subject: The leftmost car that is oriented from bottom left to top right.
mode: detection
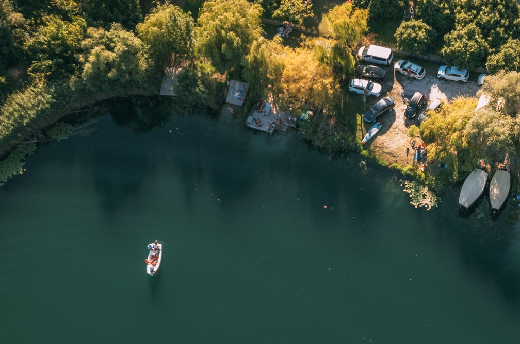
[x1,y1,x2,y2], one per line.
[362,97,397,124]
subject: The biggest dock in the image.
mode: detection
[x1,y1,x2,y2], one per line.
[246,96,302,135]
